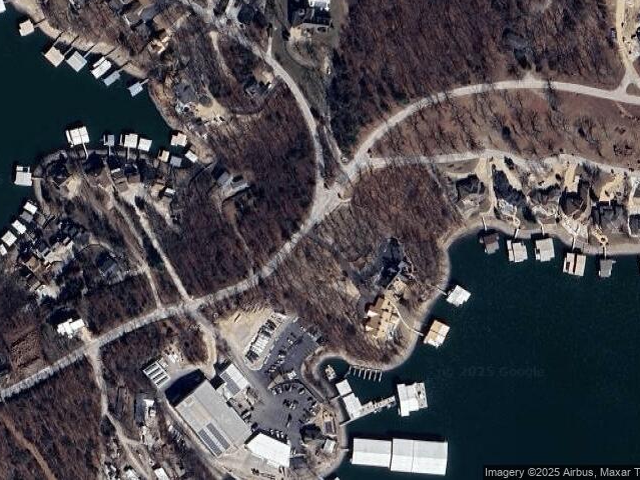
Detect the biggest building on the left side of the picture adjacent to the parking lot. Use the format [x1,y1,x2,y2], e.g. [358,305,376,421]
[175,379,251,458]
